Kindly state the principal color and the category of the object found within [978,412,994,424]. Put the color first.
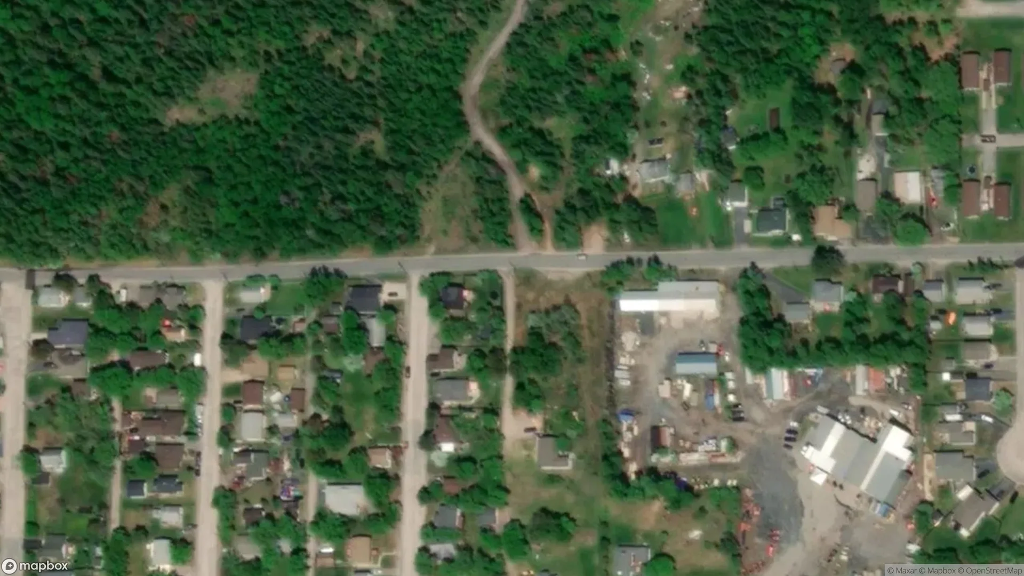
white vehicle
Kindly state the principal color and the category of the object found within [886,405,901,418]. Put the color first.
white vehicle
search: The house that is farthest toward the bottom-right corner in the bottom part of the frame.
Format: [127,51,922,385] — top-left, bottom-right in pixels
[954,486,1001,531]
